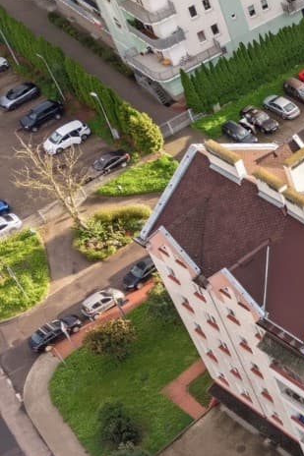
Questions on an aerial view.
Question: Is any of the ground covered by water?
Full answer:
No, there is no water in the image.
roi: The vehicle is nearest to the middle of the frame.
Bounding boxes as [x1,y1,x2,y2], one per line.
[114,257,158,289]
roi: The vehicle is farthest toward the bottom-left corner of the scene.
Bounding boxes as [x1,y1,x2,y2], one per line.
[25,317,89,355]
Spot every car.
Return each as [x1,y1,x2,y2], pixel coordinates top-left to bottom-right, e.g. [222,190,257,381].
[259,92,302,122]
[236,104,279,135]
[25,317,89,355]
[44,117,93,153]
[0,211,29,236]
[85,144,137,180]
[0,77,45,111]
[75,287,129,319]
[280,76,304,106]
[114,257,158,289]
[0,51,12,69]
[17,96,67,131]
[216,115,257,144]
